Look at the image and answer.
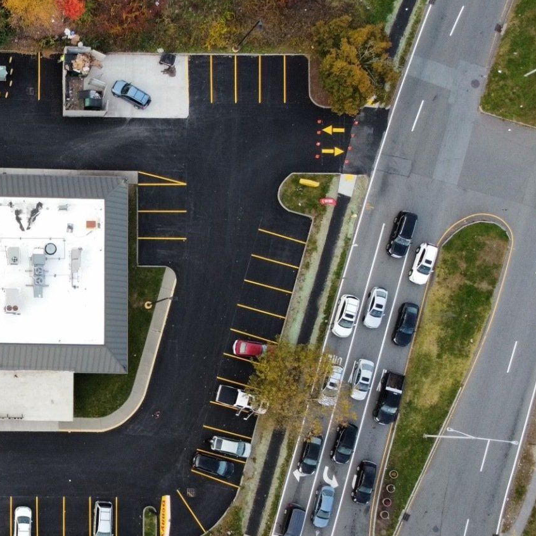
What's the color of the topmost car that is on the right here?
black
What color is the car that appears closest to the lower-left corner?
white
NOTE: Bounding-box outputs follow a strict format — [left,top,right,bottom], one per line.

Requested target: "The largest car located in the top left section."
[109,81,152,113]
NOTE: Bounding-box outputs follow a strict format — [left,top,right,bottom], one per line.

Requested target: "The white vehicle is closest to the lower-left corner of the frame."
[13,504,33,536]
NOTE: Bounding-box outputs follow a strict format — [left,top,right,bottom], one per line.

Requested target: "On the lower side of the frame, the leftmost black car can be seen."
[190,452,235,478]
